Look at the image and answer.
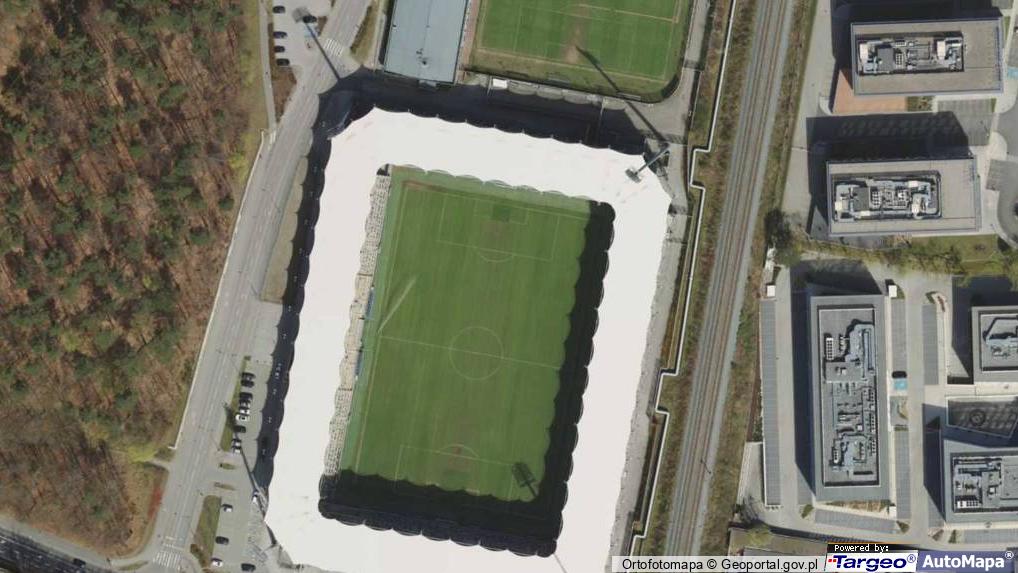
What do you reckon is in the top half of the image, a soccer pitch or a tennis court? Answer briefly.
soccer pitch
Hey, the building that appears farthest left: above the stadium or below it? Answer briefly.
above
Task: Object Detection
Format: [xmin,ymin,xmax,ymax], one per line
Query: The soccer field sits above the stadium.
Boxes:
[471,0,698,96]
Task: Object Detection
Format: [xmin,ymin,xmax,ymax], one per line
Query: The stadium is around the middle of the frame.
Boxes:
[259,103,673,573]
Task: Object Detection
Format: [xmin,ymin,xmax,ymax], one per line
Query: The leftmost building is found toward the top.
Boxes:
[385,0,471,88]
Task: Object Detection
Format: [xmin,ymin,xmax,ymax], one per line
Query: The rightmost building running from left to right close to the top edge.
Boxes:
[851,17,1003,96]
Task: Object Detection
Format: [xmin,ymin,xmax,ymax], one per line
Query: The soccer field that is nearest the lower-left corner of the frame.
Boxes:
[333,164,617,541]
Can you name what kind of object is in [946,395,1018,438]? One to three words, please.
building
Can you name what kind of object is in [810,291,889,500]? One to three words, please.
building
